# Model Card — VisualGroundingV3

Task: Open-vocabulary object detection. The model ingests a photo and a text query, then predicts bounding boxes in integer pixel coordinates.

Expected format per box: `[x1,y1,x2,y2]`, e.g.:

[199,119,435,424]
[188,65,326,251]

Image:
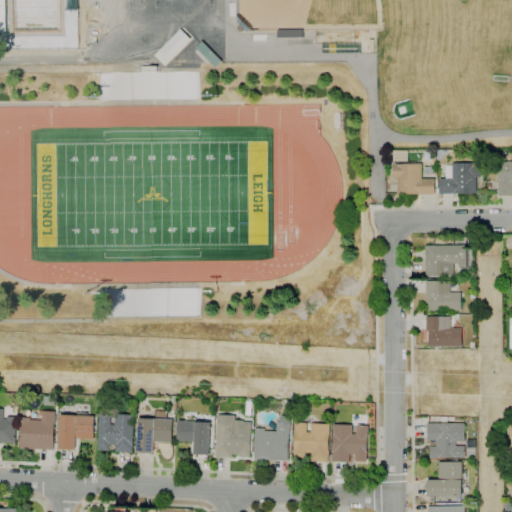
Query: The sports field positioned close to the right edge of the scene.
[380,0,512,132]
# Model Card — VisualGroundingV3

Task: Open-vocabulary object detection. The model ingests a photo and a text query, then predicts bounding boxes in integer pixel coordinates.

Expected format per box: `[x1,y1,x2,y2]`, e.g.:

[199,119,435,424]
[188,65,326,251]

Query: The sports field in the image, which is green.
[32,126,273,261]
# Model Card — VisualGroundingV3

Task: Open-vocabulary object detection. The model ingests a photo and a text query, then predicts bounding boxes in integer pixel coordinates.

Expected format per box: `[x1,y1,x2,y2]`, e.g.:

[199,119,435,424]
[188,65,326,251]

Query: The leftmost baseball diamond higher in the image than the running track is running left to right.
[239,0,376,28]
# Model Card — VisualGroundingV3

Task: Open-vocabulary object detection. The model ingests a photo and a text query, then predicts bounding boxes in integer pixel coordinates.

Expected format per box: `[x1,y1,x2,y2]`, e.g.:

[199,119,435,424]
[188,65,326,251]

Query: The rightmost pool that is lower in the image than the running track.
[257,411,278,426]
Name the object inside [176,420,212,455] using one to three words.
house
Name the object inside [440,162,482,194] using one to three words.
house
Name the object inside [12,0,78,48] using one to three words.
building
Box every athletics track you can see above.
[0,103,344,284]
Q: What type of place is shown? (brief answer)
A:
sports ground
